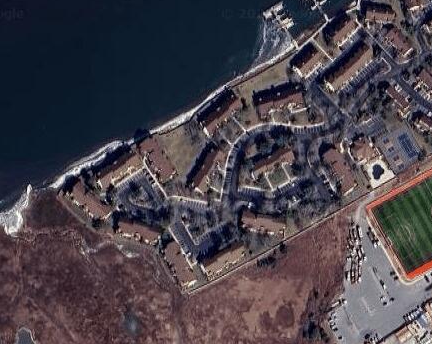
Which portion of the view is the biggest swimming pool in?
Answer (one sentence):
The biggest swimming pool appears toward the right of the photo.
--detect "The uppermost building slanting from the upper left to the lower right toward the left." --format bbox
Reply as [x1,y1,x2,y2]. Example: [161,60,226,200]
[140,141,178,187]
